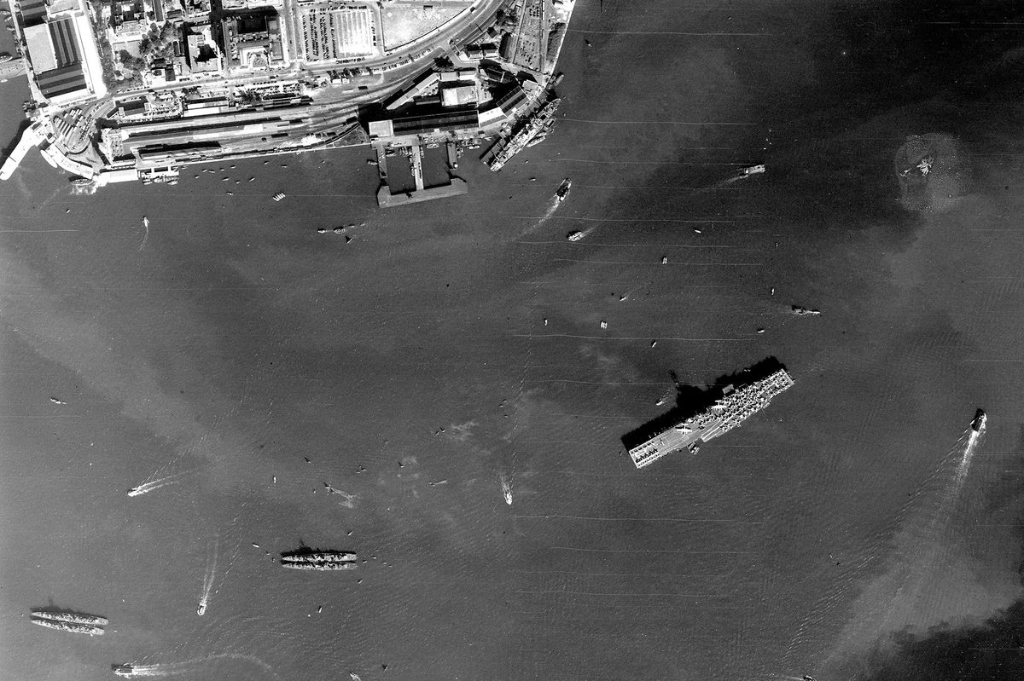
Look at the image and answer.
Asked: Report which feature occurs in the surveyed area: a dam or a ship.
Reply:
ship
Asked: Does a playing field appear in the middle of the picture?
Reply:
No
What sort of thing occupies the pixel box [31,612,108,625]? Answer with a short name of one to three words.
ship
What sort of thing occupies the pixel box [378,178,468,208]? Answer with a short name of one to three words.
pier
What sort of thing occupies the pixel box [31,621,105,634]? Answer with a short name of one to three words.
ship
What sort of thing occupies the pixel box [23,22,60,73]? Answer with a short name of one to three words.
building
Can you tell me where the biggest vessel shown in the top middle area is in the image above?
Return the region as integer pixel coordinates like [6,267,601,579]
[491,97,561,171]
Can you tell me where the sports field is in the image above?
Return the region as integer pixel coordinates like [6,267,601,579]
[383,6,465,49]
